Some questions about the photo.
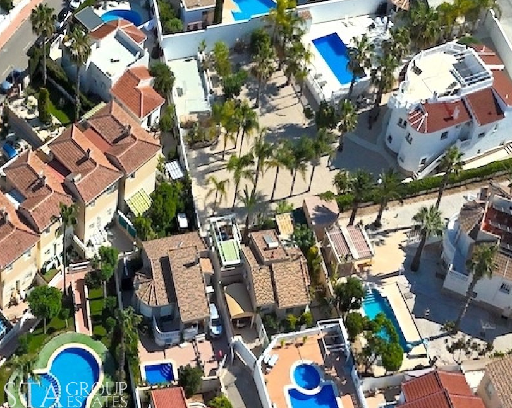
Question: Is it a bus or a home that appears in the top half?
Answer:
home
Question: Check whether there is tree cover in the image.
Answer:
Yes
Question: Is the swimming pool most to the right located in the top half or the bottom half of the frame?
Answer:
bottom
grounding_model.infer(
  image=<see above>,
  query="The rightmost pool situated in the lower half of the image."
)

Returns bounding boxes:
[359,284,411,355]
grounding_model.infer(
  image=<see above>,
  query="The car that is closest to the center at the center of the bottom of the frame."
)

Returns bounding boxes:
[207,303,224,333]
